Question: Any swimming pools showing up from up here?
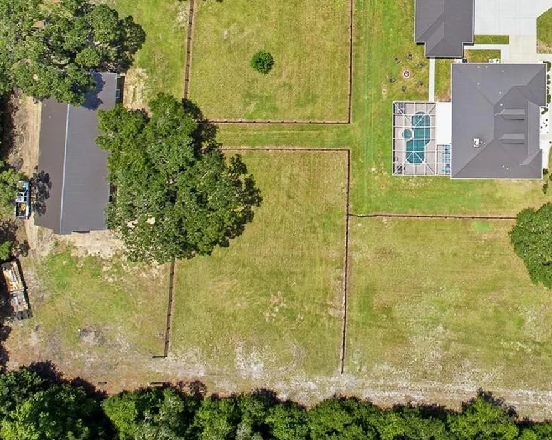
Yes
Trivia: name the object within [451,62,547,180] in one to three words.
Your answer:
house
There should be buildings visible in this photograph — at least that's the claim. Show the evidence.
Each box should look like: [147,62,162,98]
[34,69,127,235]
[415,0,474,57]
[451,62,547,180]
